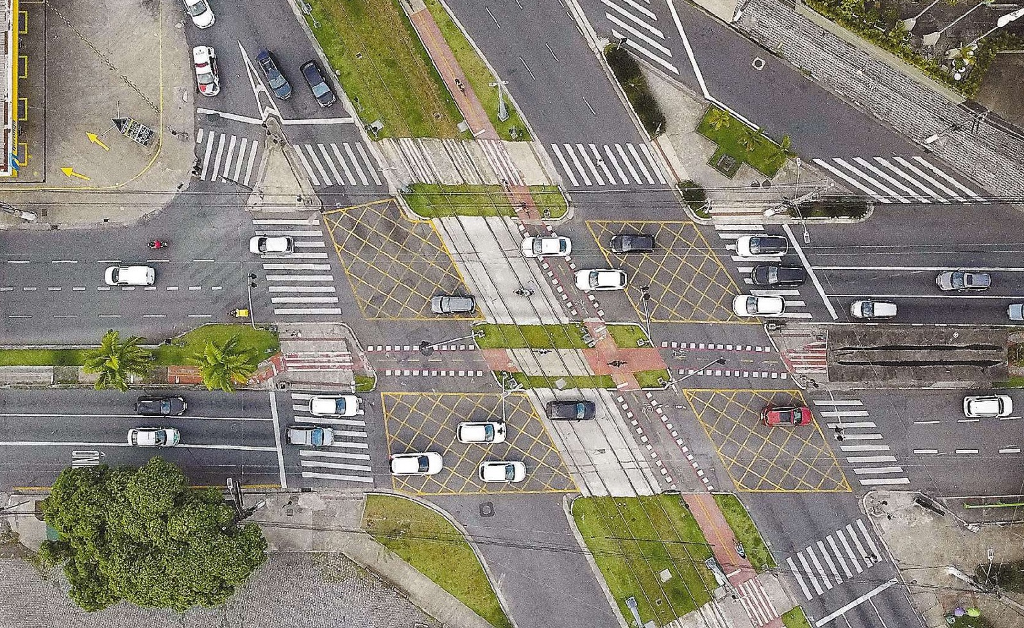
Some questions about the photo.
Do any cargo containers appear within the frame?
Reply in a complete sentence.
No, no cargo container is visible in the scene.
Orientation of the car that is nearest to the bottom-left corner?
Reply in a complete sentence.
From this overhead view, the car that is nearest to the bottom-left corner appears to run from left to right.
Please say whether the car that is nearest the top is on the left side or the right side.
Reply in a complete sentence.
It is on the left.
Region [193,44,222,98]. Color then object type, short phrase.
white car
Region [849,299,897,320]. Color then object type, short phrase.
white car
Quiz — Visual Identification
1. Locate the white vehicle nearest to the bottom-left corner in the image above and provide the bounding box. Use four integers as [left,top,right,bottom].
[127,427,181,449]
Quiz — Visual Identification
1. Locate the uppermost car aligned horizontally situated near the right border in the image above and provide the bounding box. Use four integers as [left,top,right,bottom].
[934,268,993,292]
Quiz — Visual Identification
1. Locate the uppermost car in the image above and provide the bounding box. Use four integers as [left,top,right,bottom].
[186,0,217,31]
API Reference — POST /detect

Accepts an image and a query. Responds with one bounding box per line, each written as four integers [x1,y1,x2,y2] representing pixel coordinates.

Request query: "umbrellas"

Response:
[957,602,980,618]
[943,601,964,618]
